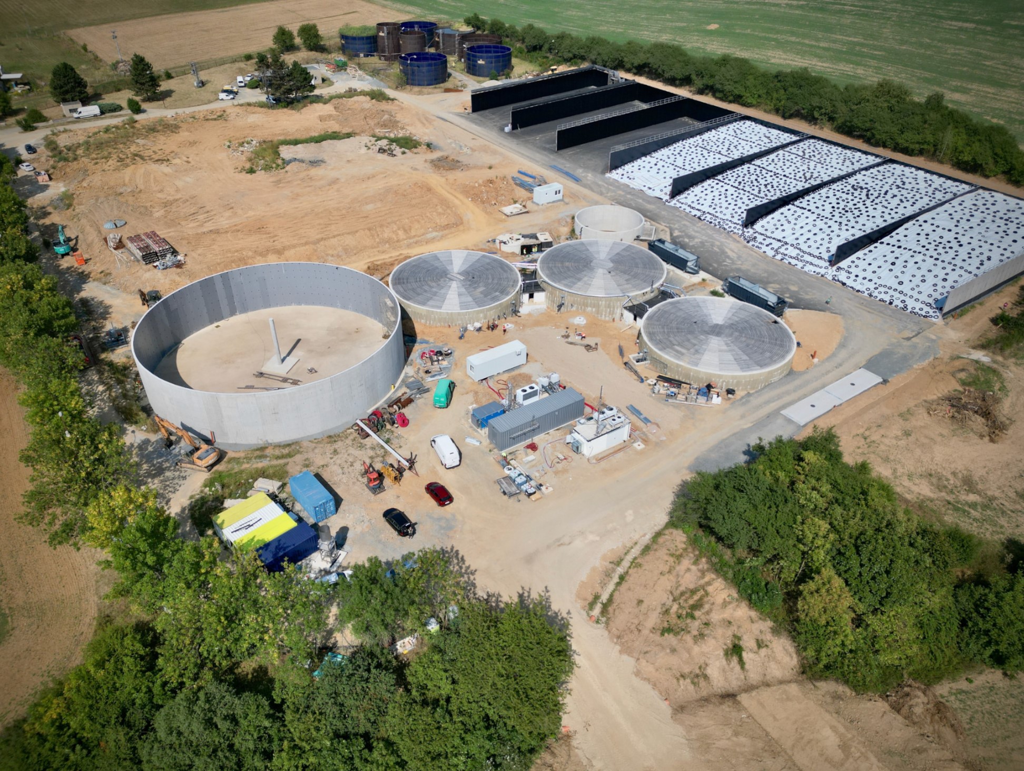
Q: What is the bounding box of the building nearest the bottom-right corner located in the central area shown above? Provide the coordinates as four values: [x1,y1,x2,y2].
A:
[572,407,633,458]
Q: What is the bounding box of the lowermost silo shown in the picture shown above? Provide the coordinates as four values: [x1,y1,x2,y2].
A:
[316,529,335,567]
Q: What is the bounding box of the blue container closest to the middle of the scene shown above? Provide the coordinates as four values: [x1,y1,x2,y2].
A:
[289,469,337,523]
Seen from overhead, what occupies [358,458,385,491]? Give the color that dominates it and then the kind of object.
red work vehicle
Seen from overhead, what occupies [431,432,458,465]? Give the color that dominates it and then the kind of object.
white vehicle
